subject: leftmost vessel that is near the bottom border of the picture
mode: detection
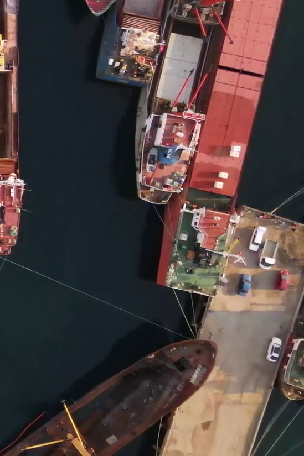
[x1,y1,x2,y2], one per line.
[0,341,221,456]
